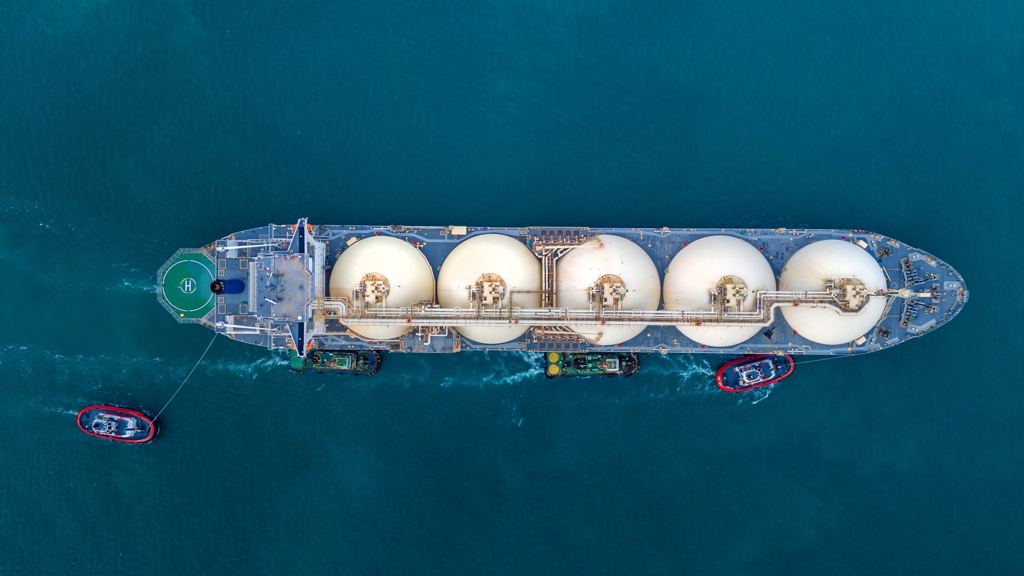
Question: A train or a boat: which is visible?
boat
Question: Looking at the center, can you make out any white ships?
Yes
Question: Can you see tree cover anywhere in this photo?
No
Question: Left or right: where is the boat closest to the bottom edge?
left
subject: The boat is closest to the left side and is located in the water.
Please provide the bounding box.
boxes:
[77,407,160,441]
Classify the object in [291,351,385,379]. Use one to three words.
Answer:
boat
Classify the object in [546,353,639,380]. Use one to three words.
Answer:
boat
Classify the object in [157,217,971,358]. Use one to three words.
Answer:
ship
